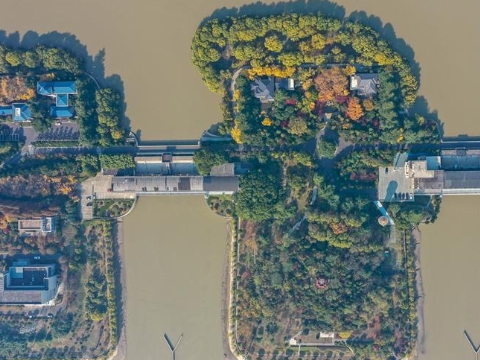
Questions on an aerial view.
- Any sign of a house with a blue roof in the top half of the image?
Yes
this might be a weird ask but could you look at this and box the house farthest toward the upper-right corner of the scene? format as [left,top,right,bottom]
[350,73,377,96]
